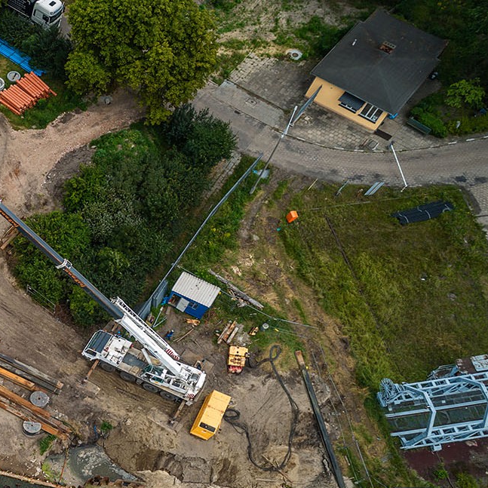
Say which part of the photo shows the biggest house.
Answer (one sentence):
You can find the biggest house in the top right area of the picture.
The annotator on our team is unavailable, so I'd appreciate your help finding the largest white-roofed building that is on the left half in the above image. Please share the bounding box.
[169,272,220,321]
